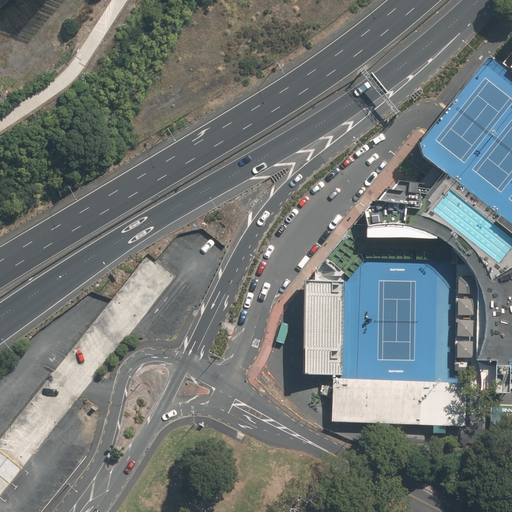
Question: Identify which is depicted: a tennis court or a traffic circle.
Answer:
tennis court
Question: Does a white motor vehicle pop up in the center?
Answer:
Yes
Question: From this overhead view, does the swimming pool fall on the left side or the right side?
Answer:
right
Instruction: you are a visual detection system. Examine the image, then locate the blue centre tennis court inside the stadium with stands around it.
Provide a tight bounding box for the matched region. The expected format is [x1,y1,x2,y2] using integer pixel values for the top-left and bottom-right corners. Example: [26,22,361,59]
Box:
[375,280,415,360]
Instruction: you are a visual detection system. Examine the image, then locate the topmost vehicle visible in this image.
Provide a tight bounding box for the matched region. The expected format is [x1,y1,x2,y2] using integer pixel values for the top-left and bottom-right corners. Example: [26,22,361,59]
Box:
[352,81,372,98]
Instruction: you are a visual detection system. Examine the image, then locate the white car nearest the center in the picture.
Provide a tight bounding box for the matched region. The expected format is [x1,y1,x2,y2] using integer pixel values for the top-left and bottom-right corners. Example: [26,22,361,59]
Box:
[262,244,276,260]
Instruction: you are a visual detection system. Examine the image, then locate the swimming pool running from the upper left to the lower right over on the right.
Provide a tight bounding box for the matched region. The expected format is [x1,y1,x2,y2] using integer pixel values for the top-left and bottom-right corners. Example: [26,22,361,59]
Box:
[432,190,512,264]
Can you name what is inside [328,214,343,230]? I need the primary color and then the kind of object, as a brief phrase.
white vehicle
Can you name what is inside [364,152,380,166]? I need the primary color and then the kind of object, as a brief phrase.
white car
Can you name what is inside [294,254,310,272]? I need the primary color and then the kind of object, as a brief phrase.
white vehicle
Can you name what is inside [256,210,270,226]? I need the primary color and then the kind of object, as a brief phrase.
white car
